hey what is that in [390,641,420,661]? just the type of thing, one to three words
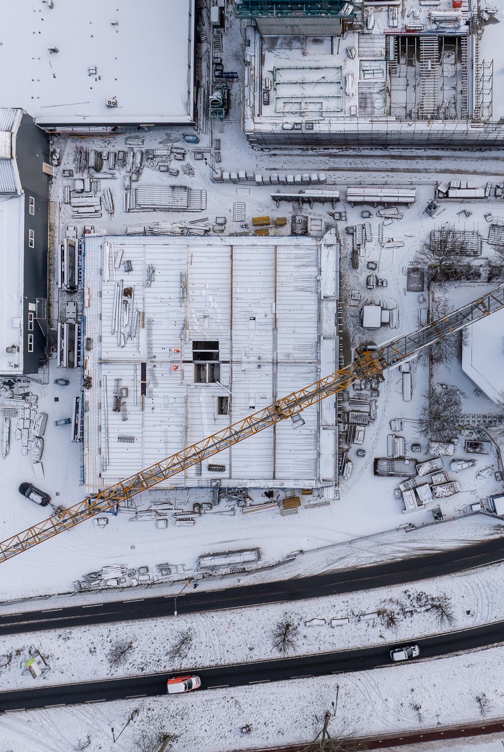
car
